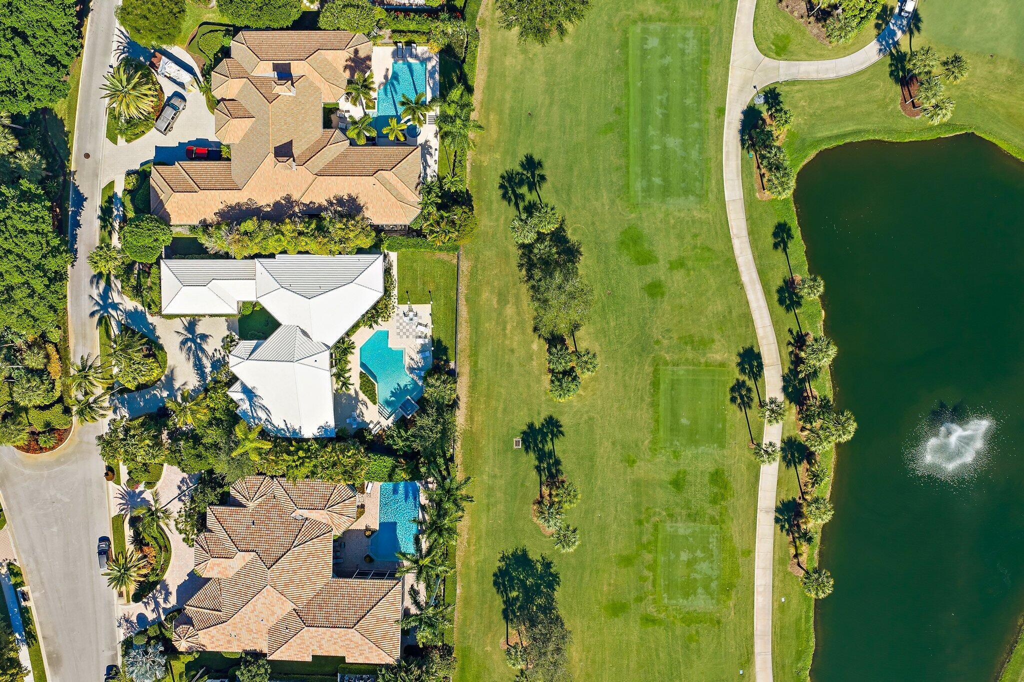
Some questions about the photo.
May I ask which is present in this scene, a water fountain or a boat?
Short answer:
water fountain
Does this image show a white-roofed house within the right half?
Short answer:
No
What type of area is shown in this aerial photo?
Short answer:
golf course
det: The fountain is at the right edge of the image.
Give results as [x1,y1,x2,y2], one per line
[895,402,1017,482]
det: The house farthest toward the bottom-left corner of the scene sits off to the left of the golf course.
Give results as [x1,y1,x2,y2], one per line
[170,476,401,664]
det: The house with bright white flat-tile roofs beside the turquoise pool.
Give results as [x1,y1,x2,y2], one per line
[160,254,384,437]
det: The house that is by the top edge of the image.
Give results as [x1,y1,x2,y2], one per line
[151,30,422,224]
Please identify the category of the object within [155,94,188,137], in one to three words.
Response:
car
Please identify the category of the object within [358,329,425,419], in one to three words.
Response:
swimming pool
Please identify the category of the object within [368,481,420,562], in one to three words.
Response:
swimming pool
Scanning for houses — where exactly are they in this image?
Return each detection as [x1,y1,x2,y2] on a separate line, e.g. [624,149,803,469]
[170,476,401,664]
[151,30,422,224]
[160,254,384,437]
